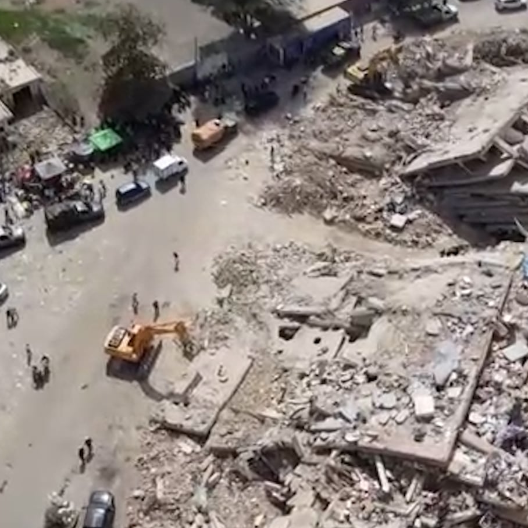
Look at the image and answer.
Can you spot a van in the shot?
Yes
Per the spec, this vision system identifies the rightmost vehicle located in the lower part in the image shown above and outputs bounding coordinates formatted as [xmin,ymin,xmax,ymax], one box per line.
[101,336,192,379]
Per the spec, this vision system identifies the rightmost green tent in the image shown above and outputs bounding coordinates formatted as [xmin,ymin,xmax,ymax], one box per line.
[88,129,124,166]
